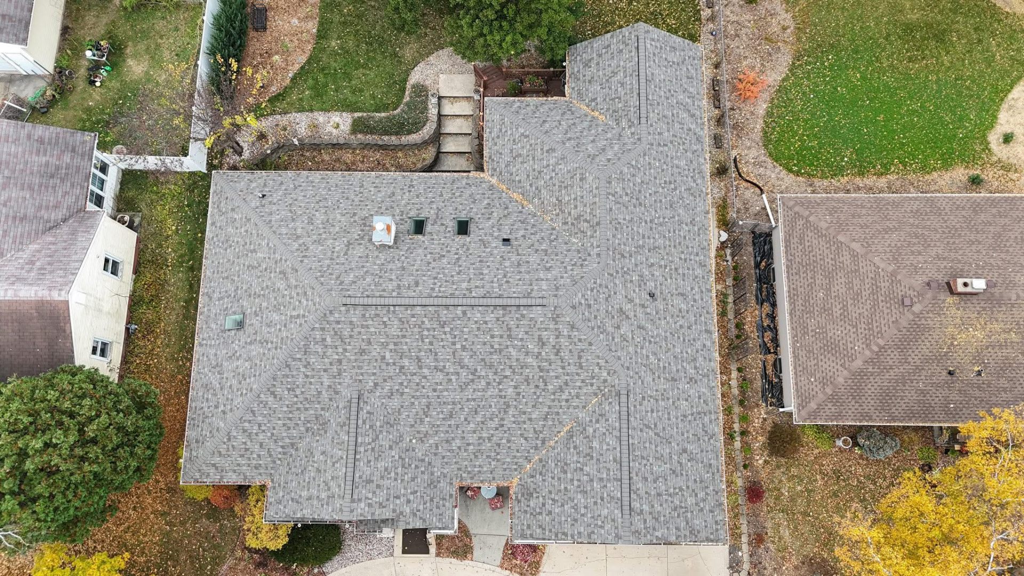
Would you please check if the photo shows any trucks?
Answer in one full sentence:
No, the picture doesn't show any truck.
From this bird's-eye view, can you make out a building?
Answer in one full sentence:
Yes, there's a building down there.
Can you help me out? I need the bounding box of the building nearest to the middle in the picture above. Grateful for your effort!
[178,22,729,547]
